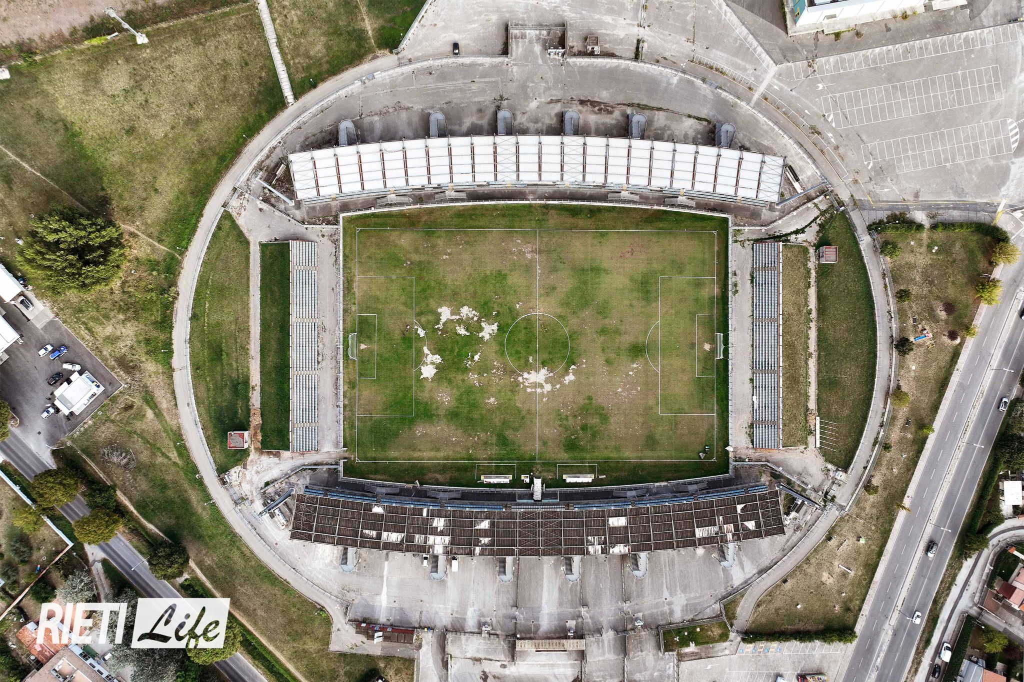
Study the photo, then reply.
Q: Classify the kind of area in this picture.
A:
sports ground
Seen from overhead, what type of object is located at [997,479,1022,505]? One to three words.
building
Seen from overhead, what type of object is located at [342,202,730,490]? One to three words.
soccer field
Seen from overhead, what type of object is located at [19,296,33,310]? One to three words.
car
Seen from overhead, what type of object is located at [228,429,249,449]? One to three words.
shed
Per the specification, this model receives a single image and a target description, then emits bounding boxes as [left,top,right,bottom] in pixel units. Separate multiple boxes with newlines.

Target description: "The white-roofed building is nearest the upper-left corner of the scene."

[0,258,32,302]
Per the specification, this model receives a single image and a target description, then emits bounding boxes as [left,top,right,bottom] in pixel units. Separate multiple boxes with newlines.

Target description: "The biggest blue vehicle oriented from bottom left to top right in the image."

[49,346,68,360]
